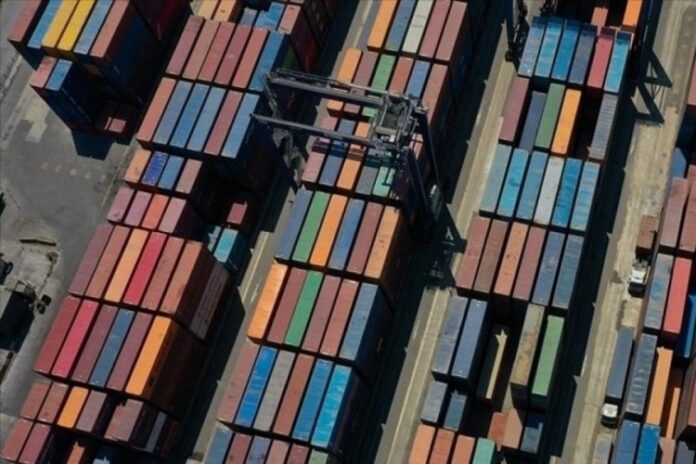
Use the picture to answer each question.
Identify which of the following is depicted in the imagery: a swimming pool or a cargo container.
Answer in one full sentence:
There is a cargo container in the scene.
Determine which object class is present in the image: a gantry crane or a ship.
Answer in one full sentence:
This aerial view contains a gantry crane.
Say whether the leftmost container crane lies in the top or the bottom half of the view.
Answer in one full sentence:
Seen from above, the leftmost container crane lies in the top half of the view.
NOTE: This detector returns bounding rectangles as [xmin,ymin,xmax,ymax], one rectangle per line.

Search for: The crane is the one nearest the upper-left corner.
[248,71,442,234]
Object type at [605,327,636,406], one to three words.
shipping container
